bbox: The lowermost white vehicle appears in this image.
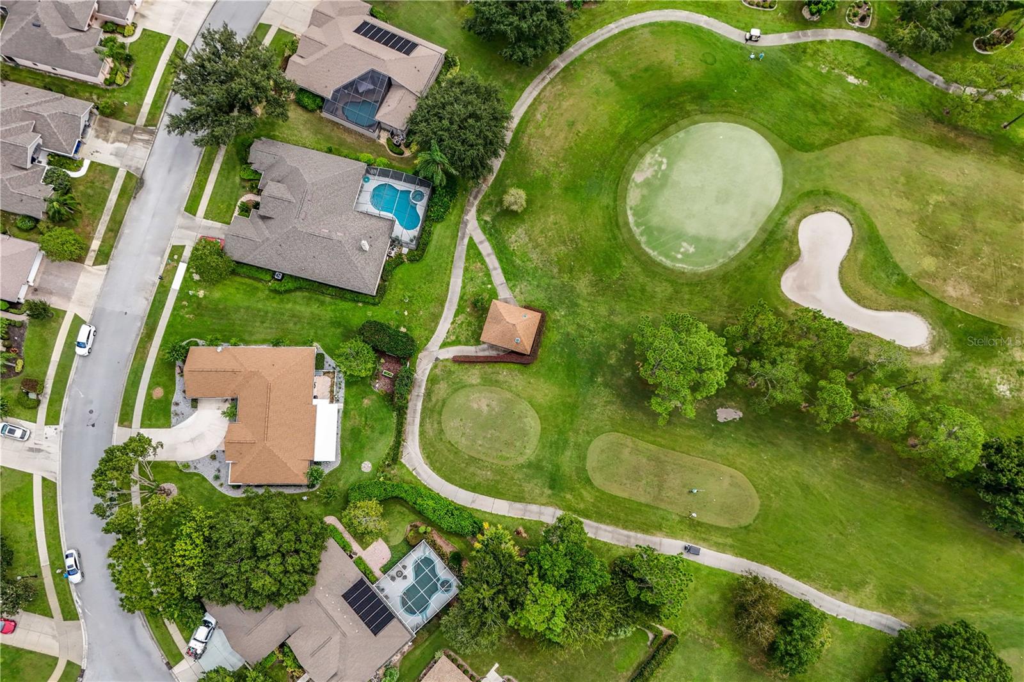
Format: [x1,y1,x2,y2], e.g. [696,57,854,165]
[181,615,217,664]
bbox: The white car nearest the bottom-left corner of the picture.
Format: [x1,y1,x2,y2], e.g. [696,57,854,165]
[65,547,86,585]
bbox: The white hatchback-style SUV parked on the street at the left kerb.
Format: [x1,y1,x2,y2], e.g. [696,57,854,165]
[76,325,97,355]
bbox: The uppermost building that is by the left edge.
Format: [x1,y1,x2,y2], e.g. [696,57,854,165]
[0,0,145,85]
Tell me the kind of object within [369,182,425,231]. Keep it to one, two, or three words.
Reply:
swimming pool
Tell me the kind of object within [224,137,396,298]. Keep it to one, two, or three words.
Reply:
house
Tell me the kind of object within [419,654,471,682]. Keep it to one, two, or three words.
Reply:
house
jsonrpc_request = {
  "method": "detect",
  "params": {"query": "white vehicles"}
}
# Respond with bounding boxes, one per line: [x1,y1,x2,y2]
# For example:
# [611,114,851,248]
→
[746,28,763,42]
[65,547,86,585]
[181,615,217,664]
[0,423,32,442]
[76,325,97,355]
